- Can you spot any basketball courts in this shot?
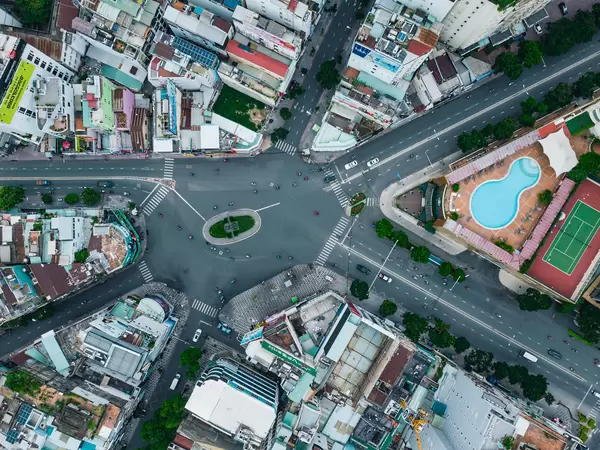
No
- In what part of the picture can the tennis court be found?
right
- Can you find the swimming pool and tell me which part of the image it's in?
right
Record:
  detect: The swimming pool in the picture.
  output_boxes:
[468,155,544,231]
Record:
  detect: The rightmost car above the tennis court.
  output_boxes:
[558,1,570,16]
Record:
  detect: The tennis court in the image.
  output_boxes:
[524,178,600,301]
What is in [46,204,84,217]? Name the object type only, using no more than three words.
building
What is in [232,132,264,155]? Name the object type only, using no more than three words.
building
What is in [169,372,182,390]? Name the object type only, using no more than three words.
vehicle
